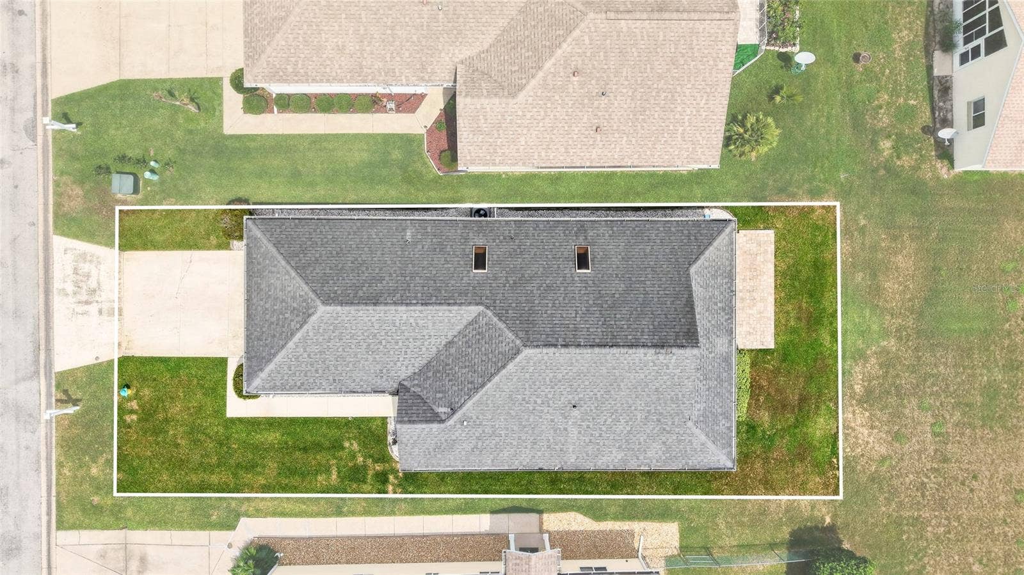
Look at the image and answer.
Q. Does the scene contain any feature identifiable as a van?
No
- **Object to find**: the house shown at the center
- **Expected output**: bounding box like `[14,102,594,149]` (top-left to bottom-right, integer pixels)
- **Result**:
[245,218,735,471]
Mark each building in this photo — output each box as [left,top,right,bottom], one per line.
[243,0,737,171]
[245,218,735,471]
[954,0,1024,170]
[267,533,661,575]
